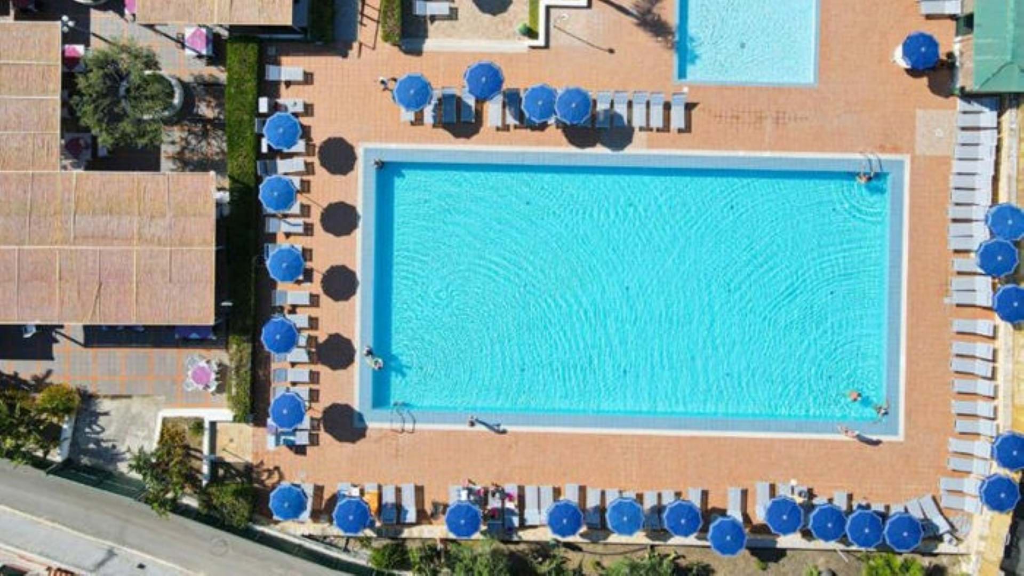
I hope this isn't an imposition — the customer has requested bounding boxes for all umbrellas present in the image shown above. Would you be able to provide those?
[547,498,583,535]
[605,496,642,533]
[967,238,1012,277]
[267,114,303,150]
[466,63,503,102]
[970,472,1015,511]
[844,509,880,547]
[261,176,298,213]
[981,202,1023,241]
[521,87,557,124]
[271,481,309,518]
[334,494,373,532]
[663,497,701,535]
[882,511,920,549]
[270,245,306,282]
[980,430,1024,469]
[762,495,801,533]
[893,33,936,72]
[982,284,1024,323]
[272,390,309,427]
[262,316,300,353]
[807,506,845,543]
[395,76,432,113]
[444,499,482,537]
[707,515,745,553]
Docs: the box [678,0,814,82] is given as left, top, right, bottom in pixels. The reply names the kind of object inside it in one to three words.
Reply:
swimming pool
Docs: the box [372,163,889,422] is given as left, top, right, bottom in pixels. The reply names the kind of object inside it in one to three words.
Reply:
swimming pool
